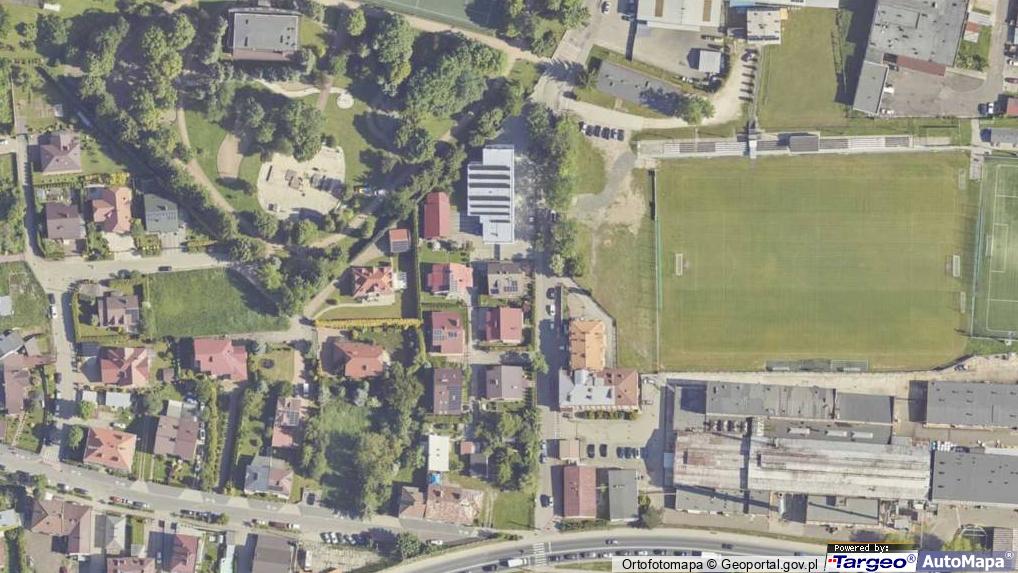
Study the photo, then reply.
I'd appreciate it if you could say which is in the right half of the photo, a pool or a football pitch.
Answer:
football pitch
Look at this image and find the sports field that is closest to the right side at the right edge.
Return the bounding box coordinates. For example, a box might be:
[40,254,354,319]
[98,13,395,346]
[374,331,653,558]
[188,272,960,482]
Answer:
[973,152,1018,340]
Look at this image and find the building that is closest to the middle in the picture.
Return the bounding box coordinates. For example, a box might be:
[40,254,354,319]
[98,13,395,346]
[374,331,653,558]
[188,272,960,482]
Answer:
[488,263,525,298]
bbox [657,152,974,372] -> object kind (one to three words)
soccer field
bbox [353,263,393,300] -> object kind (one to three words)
house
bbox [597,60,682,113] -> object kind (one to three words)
building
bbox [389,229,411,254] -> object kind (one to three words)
shed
